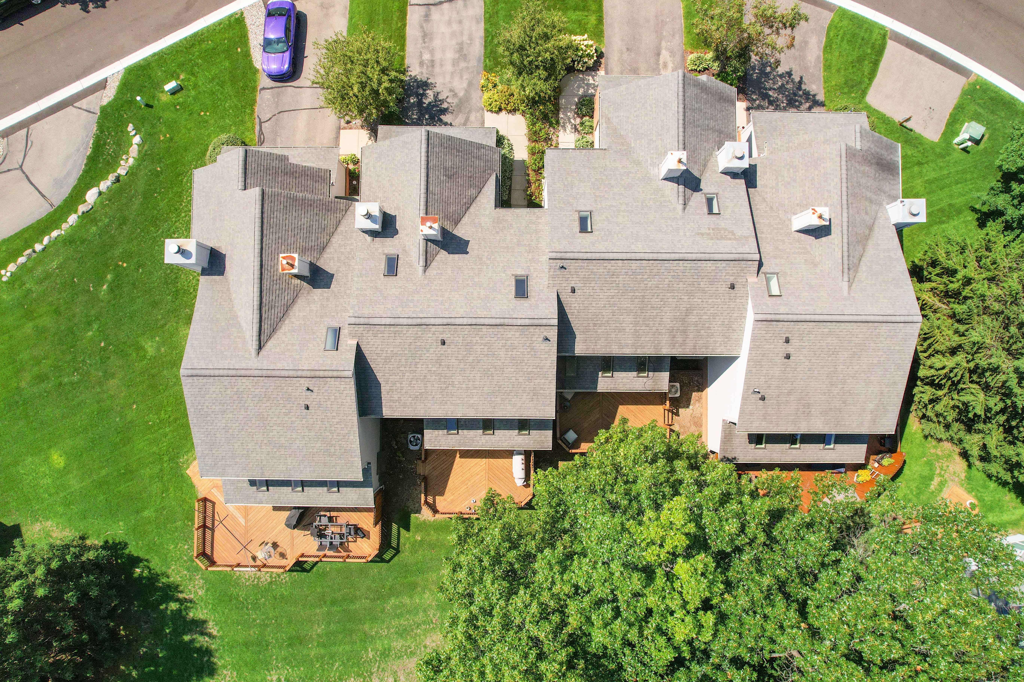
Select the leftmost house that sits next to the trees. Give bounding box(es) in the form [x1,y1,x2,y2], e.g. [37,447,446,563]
[164,144,385,509]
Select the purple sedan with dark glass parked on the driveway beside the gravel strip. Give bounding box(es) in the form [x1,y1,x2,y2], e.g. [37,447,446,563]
[259,0,301,83]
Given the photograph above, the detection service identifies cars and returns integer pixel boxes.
[0,0,42,21]
[259,0,301,83]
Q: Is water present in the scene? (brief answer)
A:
No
